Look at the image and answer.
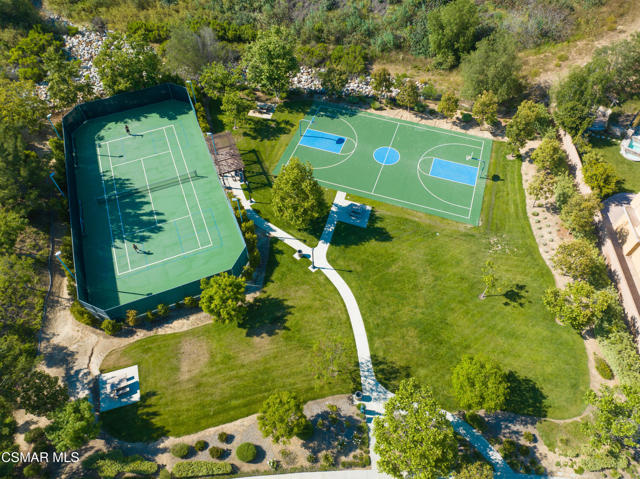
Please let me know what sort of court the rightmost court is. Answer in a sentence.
The rightmost court is a basketball court.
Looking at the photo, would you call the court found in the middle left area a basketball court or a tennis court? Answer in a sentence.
It turns out the court found in the middle left area is a tennis court.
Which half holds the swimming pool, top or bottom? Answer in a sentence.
The swimming pool is in the top half of the image.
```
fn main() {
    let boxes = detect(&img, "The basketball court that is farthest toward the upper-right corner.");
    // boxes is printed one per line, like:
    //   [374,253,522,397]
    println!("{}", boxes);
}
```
[271,100,493,224]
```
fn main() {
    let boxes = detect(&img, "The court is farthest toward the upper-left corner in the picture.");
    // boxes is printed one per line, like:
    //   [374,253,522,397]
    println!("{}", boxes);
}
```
[72,100,246,325]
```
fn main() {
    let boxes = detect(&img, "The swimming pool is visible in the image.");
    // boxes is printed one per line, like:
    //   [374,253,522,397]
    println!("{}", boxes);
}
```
[617,129,640,164]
